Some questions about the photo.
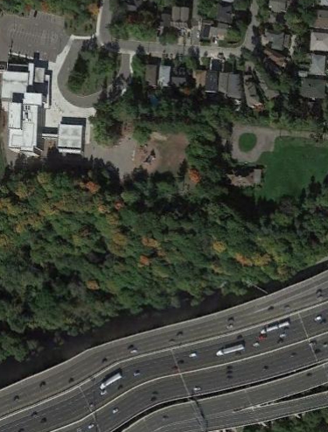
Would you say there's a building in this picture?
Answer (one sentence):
Yes, there's a building here.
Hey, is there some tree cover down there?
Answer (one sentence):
Yes, tree cover shows up in the scene.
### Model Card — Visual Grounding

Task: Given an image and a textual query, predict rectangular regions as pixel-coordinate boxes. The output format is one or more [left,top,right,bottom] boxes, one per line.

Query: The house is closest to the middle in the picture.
[228,172,255,187]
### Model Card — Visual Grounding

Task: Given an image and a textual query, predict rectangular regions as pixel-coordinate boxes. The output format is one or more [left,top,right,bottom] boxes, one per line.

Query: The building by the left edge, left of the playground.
[1,63,85,155]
